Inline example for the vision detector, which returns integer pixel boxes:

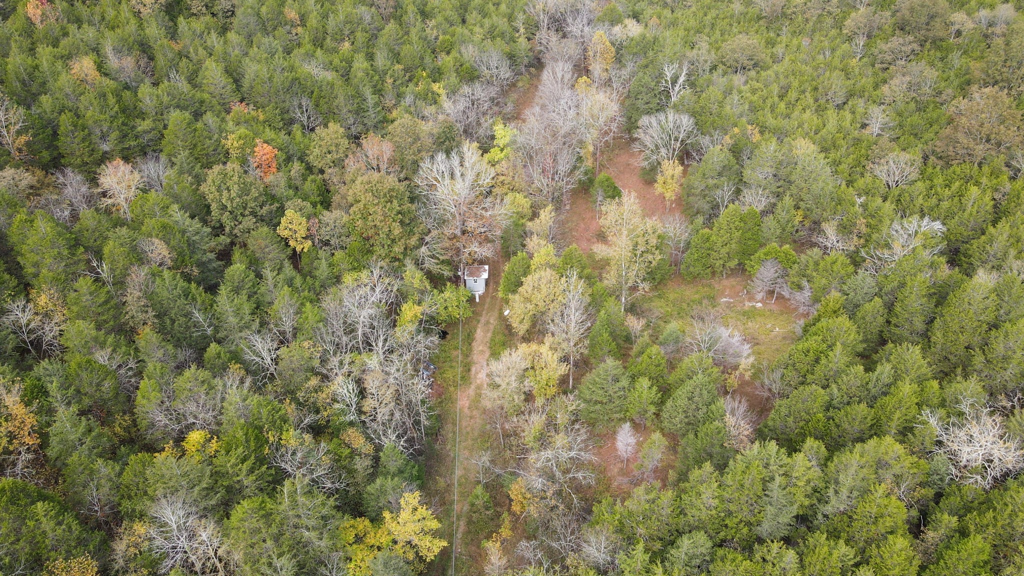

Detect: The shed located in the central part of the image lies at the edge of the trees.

[463,260,489,291]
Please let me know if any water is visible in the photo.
No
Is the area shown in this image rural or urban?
rural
